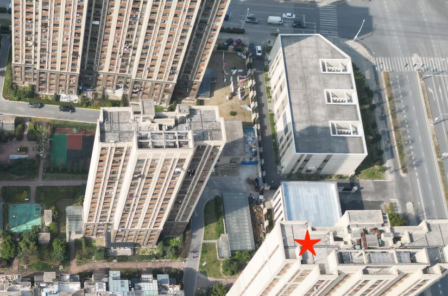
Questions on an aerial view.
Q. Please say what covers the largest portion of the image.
buildings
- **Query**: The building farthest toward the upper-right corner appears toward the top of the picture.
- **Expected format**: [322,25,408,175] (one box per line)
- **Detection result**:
[268,35,367,175]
